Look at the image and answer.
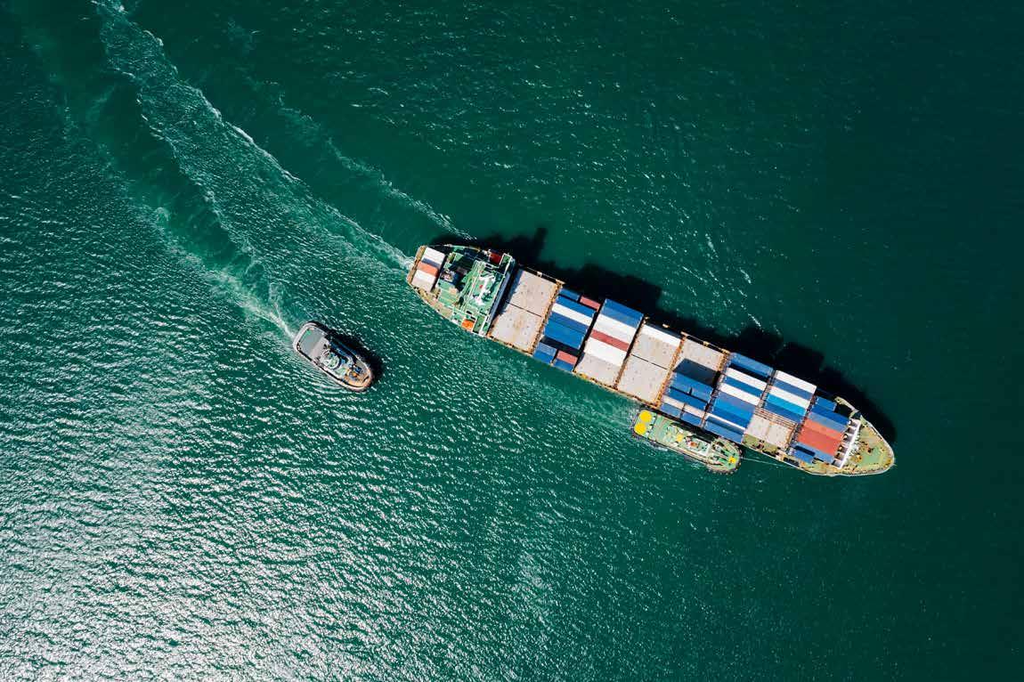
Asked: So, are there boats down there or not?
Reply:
Yes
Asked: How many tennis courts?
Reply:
zero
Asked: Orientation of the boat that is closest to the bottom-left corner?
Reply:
diagonally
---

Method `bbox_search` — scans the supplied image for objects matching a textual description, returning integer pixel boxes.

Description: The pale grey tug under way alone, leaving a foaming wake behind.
[293,321,373,392]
